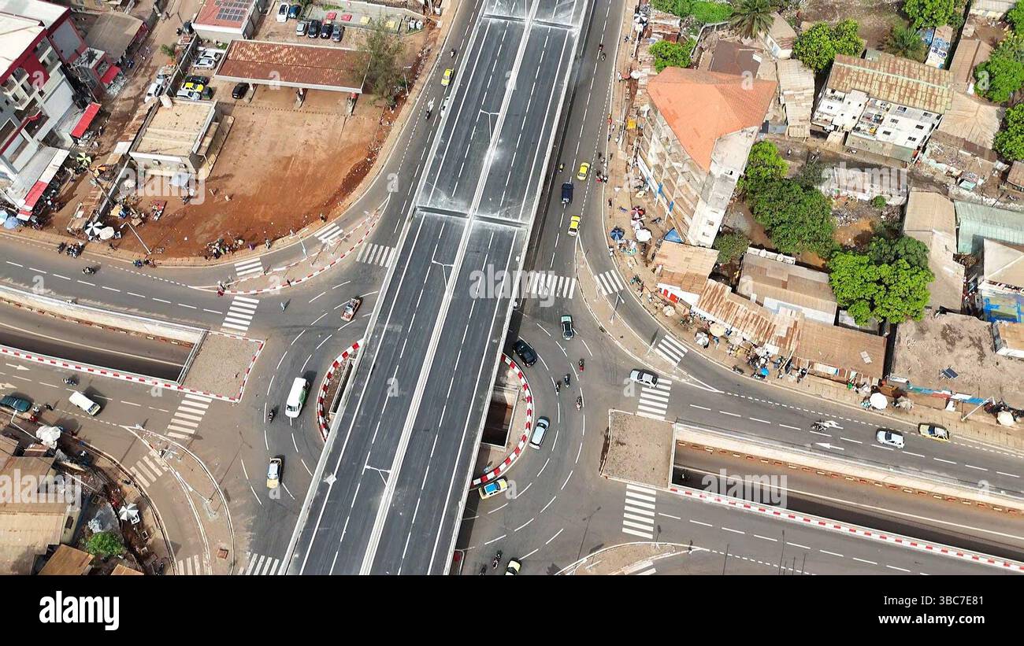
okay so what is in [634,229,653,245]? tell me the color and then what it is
white umbrella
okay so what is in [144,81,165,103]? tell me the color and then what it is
white car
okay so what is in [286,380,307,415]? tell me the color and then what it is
white vehicle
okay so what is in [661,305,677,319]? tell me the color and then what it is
white umbrella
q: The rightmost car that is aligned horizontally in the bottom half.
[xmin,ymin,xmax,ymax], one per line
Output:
[918,424,948,440]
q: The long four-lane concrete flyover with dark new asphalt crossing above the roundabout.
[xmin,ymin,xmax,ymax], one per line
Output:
[253,0,593,646]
